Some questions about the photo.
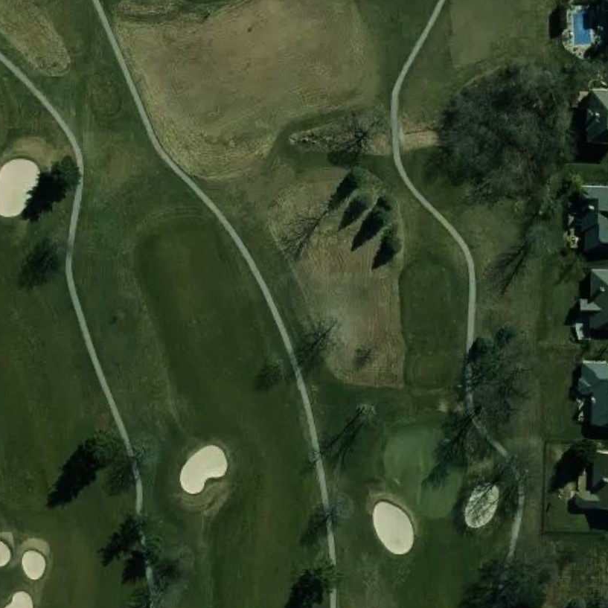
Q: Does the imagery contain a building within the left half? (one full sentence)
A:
No, no building appears within the left half.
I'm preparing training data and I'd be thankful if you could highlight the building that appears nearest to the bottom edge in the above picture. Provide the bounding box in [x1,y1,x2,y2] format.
[561,466,608,510]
